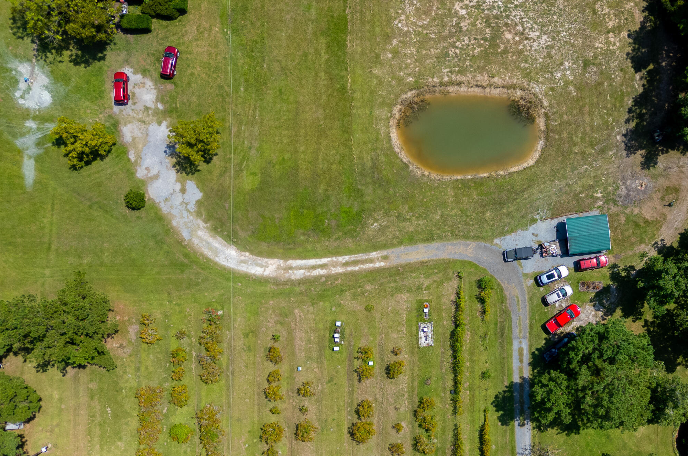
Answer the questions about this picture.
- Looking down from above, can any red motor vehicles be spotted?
Yes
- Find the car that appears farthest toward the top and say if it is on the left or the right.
left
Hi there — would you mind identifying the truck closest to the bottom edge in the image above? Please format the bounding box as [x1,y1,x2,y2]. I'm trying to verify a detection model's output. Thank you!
[539,332,575,366]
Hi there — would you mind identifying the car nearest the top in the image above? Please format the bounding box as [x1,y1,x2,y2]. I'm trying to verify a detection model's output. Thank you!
[160,48,181,82]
